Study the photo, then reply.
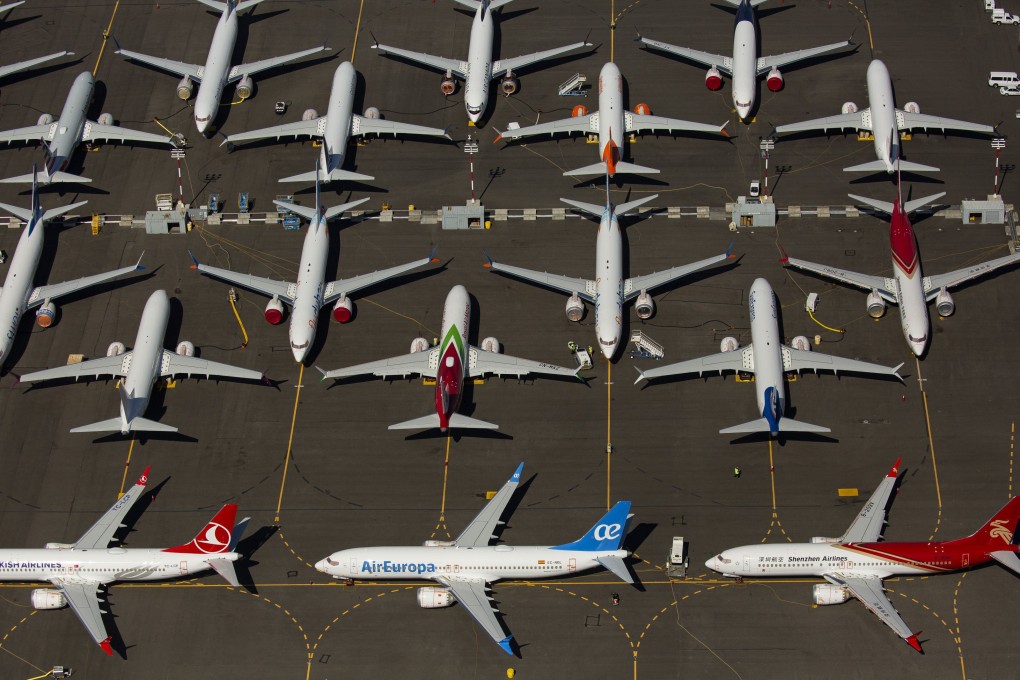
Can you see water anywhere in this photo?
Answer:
No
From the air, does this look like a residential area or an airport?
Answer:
airport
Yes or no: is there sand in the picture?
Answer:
No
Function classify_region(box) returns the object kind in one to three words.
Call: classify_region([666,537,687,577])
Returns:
vehicle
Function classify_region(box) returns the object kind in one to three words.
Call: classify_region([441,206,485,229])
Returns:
shed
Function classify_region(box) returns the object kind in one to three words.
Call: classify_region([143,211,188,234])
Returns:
shed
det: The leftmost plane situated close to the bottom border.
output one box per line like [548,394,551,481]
[0,465,250,657]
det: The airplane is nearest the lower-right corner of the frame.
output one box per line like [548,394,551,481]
[706,458,1020,653]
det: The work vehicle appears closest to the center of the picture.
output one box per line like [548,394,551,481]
[575,344,594,366]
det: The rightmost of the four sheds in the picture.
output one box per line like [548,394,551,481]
[961,200,1005,224]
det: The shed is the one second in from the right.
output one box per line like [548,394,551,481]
[732,203,776,227]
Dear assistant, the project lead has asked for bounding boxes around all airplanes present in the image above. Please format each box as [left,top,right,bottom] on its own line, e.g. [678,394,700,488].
[494,63,728,177]
[706,458,1020,653]
[0,465,250,657]
[635,0,857,122]
[0,165,149,366]
[0,72,177,185]
[316,461,635,655]
[778,156,1020,358]
[218,69,451,183]
[318,283,584,432]
[767,60,1004,174]
[636,283,904,434]
[371,0,592,125]
[483,158,734,360]
[113,0,331,133]
[189,160,438,362]
[8,286,272,434]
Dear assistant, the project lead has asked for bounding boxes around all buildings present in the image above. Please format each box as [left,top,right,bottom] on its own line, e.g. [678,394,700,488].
[143,211,188,234]
[961,200,1005,224]
[441,206,485,229]
[732,203,776,227]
